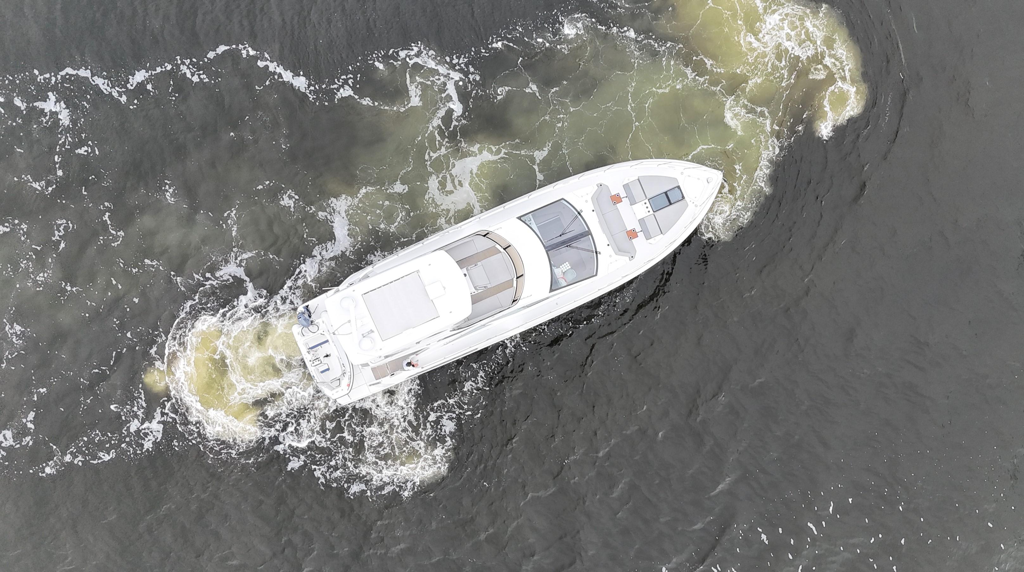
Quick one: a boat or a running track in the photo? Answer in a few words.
boat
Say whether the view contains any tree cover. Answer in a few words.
No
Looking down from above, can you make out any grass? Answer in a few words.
No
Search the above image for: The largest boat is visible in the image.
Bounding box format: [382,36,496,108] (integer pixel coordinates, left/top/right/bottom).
[298,158,726,404]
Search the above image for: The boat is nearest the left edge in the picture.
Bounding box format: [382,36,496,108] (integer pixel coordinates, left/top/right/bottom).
[292,305,354,400]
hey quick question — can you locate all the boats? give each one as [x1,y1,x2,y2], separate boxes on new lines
[298,158,726,404]
[292,305,354,400]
